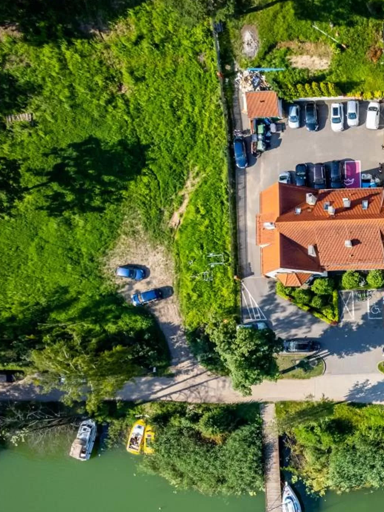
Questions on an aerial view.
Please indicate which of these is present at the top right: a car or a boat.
car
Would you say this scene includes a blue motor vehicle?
Yes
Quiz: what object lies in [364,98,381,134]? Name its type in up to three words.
vehicle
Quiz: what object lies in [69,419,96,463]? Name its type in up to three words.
boat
